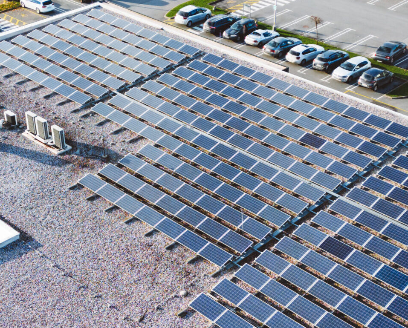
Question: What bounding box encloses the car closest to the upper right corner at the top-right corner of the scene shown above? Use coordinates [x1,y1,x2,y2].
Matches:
[376,39,408,62]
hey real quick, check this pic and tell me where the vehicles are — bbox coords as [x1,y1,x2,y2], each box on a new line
[361,65,399,88]
[226,16,262,39]
[314,46,355,70]
[334,54,374,80]
[180,4,214,24]
[290,42,327,63]
[205,13,244,33]
[247,27,283,46]
[265,34,306,55]
[376,39,408,62]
